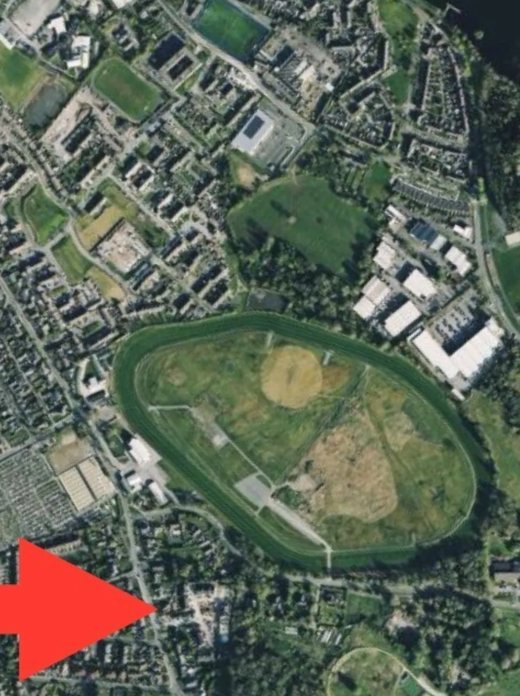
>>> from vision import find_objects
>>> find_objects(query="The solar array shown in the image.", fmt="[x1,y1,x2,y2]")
[243,119,265,143]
